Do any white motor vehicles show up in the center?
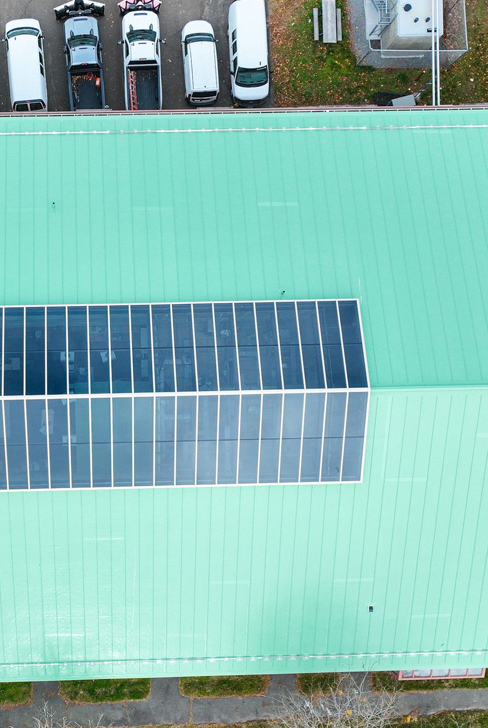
No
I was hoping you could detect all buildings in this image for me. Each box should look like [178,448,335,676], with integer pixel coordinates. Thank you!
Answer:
[0,105,488,684]
[372,0,442,55]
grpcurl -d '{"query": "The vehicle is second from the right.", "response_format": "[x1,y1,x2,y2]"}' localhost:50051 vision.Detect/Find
[179,21,222,107]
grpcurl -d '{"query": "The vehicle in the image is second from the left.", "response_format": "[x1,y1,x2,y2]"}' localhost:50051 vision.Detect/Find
[55,0,109,112]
